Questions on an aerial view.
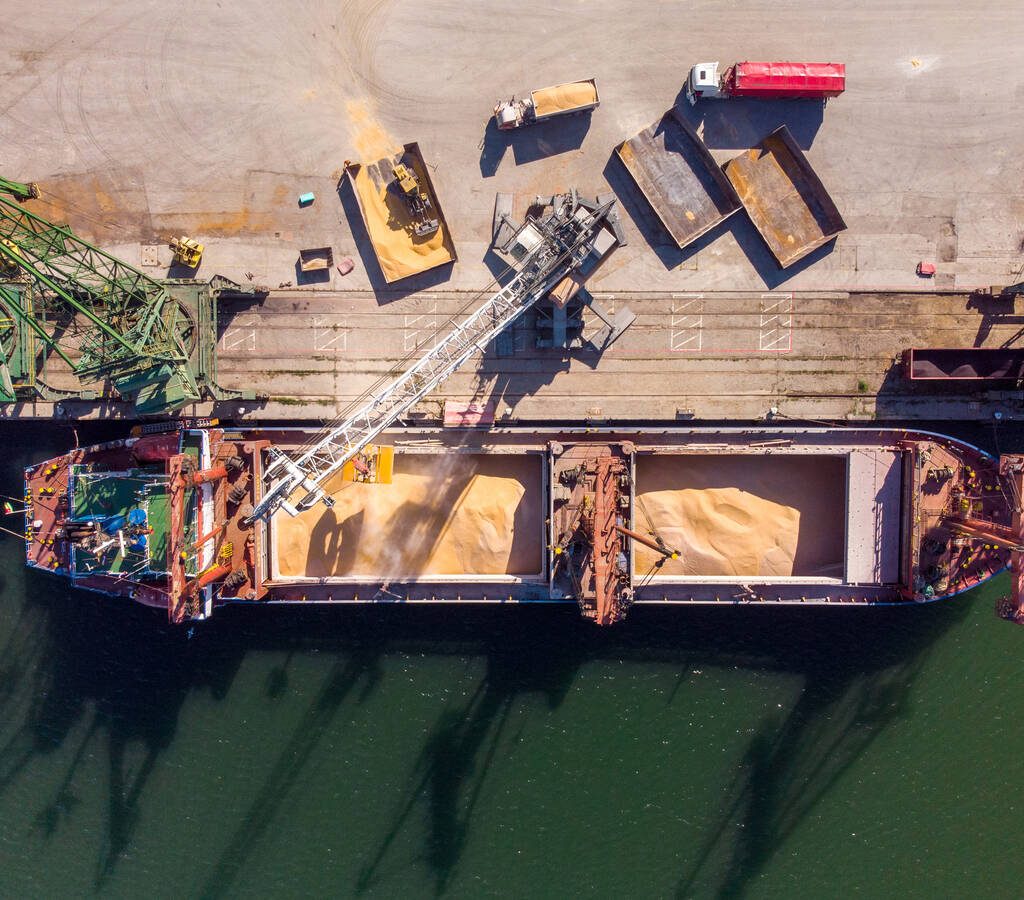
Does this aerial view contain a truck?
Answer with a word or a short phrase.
Yes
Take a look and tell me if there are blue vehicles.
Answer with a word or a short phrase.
No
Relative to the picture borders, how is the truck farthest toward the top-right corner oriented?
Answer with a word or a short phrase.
from side to side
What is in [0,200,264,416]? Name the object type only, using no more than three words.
crane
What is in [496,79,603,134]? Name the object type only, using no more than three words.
truck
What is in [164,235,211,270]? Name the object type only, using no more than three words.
work vehicle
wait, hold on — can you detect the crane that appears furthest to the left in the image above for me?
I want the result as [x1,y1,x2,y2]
[0,278,98,420]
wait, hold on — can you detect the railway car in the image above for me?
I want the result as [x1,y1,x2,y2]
[891,347,1024,382]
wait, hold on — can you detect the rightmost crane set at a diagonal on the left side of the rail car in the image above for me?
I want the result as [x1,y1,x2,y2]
[244,161,636,527]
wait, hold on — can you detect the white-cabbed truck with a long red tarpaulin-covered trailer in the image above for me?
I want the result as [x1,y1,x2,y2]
[683,61,846,102]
